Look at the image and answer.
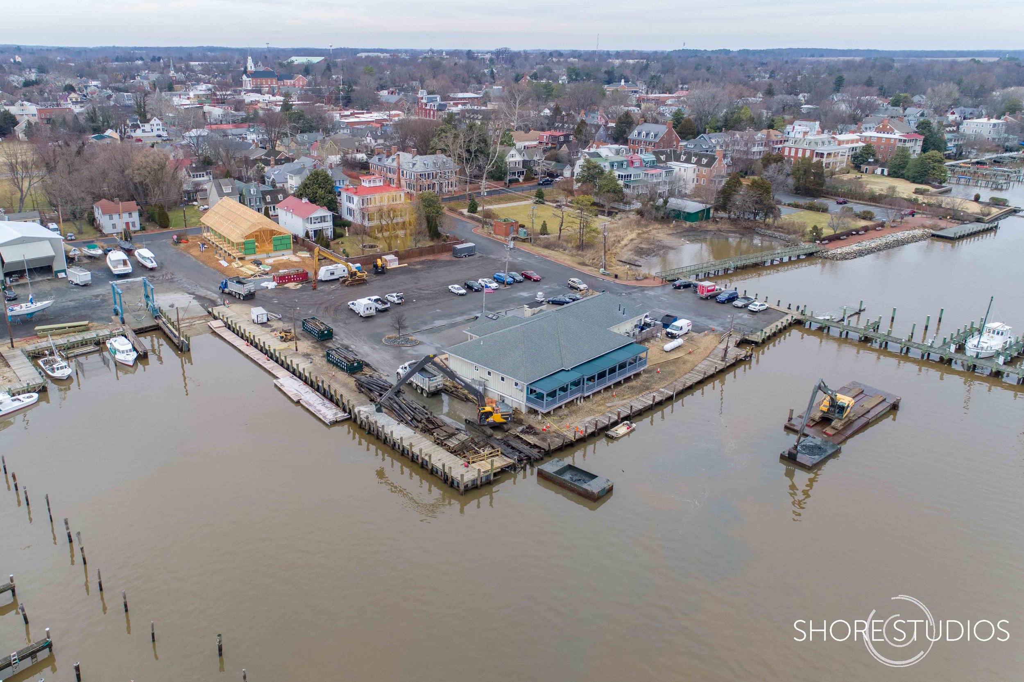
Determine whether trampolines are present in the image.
No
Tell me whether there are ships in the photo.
Yes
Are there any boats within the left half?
Yes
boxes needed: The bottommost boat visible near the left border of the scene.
[0,387,45,413]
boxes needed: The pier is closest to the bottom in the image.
[0,626,58,672]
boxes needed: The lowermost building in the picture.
[444,292,655,415]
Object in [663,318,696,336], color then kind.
white vehicle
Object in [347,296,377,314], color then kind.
white vehicle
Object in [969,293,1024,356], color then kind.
white boat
